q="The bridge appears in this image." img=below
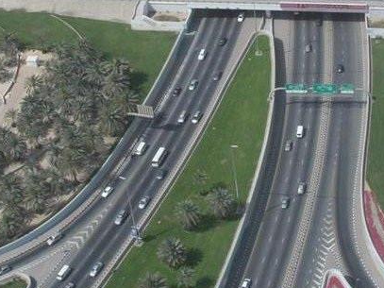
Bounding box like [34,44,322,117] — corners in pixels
[189,0,370,15]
